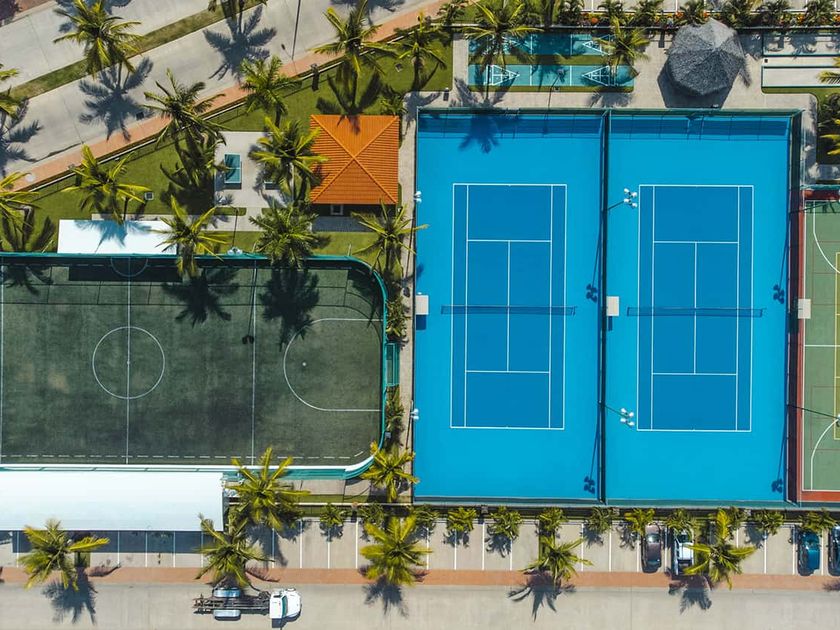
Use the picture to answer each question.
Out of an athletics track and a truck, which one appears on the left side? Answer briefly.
truck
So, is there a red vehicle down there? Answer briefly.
No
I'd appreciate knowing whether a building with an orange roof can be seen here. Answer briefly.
Yes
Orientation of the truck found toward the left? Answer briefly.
from left to right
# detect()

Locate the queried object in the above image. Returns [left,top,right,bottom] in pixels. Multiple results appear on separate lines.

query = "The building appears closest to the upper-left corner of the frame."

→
[308,113,399,204]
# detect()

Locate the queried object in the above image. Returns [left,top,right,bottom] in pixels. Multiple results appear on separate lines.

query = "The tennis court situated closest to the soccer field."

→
[413,116,602,498]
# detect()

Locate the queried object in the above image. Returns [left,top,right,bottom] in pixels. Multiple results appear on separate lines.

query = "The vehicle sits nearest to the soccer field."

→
[194,586,304,624]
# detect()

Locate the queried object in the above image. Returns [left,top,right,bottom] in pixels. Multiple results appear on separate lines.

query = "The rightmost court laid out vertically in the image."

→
[797,190,840,500]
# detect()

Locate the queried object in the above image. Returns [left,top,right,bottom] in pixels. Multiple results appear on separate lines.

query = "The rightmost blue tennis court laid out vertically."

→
[605,116,790,500]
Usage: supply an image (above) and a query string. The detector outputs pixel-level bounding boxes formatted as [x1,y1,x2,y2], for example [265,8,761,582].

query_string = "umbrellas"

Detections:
[664,15,750,100]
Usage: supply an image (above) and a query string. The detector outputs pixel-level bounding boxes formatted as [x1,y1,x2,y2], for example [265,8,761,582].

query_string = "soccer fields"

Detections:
[0,258,384,467]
